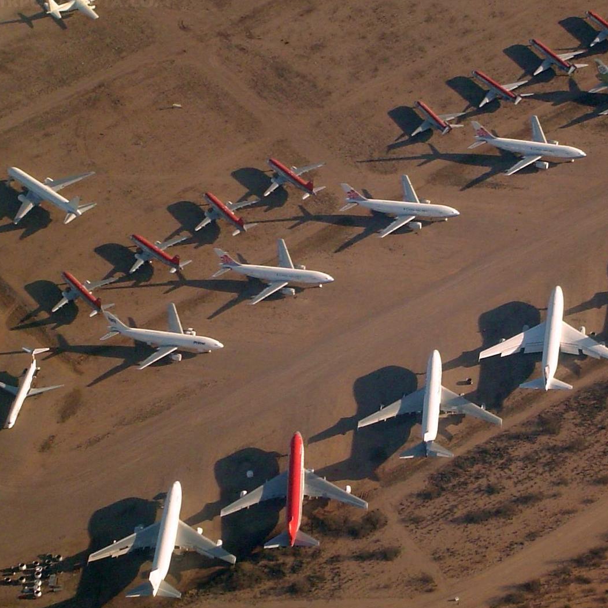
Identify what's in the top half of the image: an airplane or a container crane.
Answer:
airplane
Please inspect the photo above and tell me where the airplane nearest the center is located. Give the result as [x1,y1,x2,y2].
[212,238,335,306]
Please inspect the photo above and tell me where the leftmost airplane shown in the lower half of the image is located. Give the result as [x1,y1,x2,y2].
[0,349,64,430]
